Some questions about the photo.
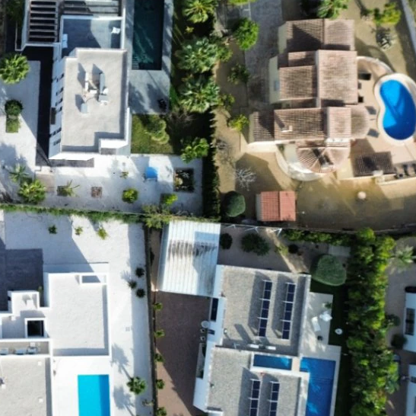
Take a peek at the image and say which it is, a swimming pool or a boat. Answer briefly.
swimming pool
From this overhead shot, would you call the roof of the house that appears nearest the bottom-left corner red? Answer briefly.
No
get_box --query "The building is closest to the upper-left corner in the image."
[18,0,128,158]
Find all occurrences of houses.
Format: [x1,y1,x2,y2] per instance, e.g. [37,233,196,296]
[18,0,128,158]
[197,265,311,416]
[399,290,416,416]
[241,19,394,179]
[0,272,111,416]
